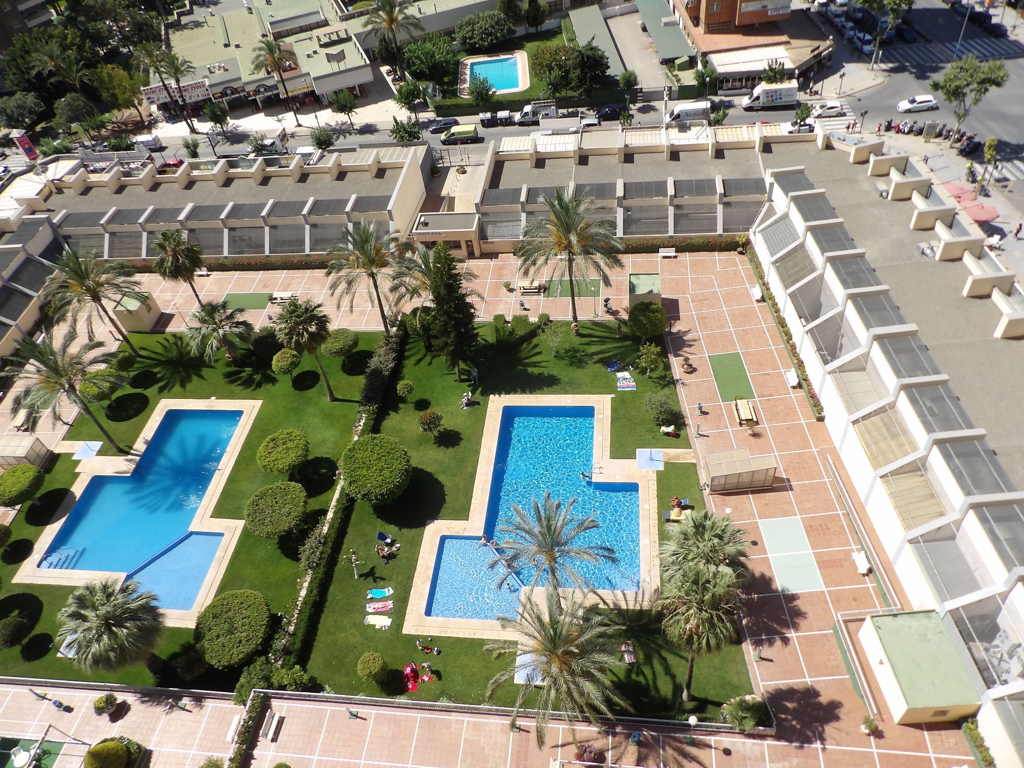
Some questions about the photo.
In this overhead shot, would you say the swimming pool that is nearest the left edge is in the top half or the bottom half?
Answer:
bottom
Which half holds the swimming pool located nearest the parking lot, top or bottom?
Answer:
top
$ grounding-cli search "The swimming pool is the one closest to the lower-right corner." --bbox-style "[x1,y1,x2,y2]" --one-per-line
[402,394,660,650]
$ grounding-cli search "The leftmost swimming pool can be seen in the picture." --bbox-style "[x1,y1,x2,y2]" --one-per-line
[12,399,262,626]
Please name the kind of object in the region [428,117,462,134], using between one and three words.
car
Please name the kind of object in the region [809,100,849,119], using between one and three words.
car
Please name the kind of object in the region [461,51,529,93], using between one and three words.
swimming pool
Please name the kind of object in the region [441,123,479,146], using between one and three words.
vehicle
